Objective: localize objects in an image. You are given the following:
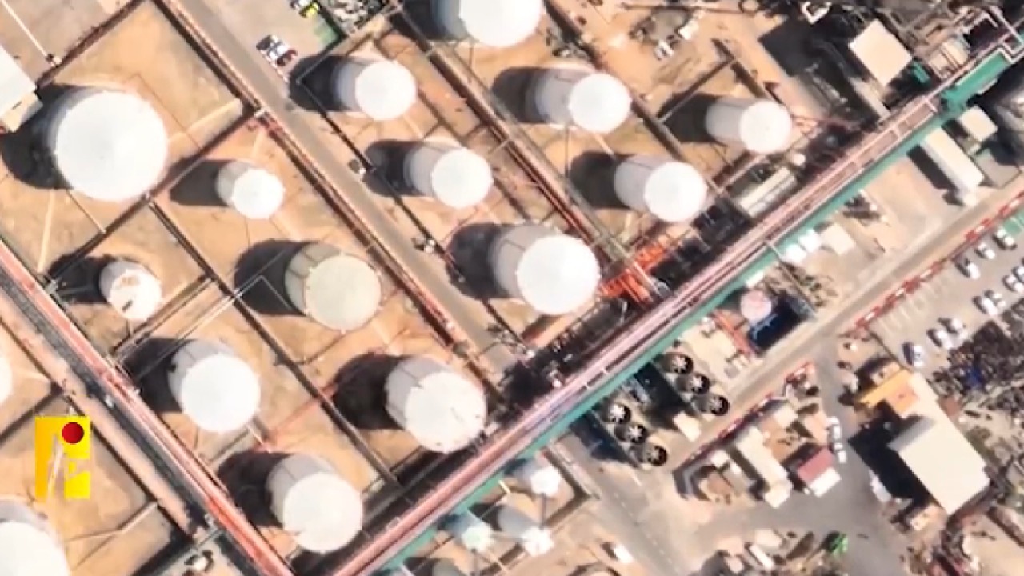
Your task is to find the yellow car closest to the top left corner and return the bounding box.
[299,1,320,20]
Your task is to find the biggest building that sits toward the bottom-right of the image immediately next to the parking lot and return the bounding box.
[872,418,991,515]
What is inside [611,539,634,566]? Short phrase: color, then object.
white vehicle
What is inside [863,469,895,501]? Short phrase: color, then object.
white truck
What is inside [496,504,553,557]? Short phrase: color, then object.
white storage tank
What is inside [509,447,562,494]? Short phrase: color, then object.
white storage tank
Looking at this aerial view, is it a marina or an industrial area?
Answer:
industrial area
